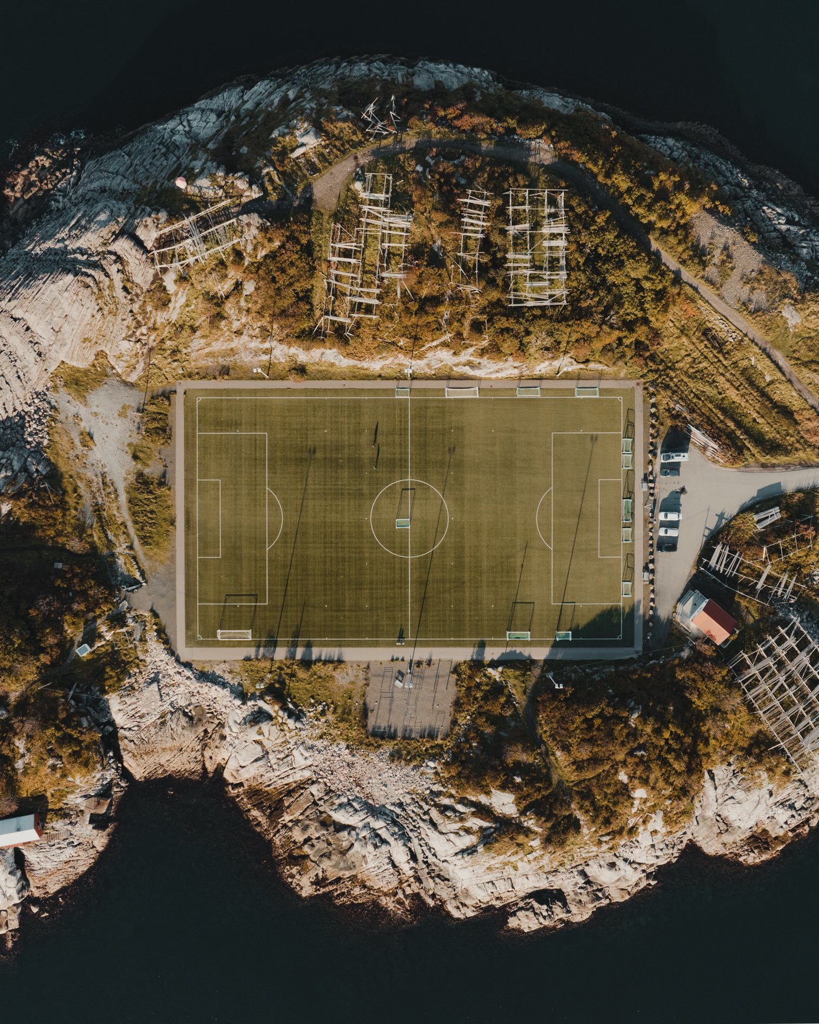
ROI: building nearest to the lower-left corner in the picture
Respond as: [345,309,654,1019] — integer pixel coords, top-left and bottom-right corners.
[0,813,44,850]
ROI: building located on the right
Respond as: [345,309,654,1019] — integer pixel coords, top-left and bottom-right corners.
[690,598,737,646]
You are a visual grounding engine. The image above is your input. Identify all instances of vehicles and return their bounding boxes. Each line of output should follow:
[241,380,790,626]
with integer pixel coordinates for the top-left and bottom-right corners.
[662,451,690,462]
[660,512,682,521]
[660,528,679,536]
[658,543,678,552]
[661,468,681,477]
